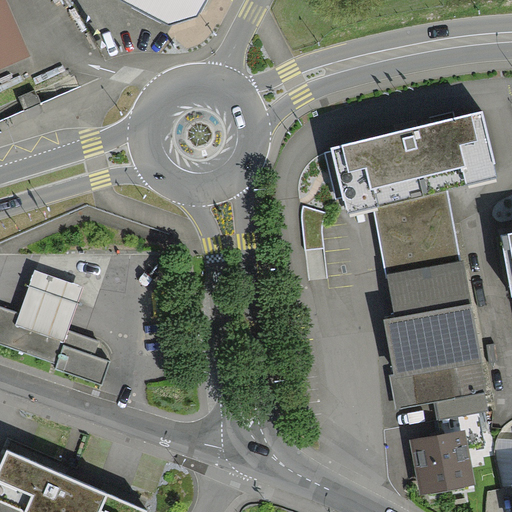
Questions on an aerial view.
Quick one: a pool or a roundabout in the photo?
roundabout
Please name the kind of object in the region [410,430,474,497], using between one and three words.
house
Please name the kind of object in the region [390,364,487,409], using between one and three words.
building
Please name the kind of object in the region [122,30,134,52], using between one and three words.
vehicle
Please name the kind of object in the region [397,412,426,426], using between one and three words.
vehicle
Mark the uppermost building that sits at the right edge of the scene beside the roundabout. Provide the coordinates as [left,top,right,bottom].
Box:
[324,110,497,223]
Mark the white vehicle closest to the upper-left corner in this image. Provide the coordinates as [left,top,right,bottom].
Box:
[101,30,118,56]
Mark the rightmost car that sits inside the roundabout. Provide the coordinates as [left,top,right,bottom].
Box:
[232,106,245,130]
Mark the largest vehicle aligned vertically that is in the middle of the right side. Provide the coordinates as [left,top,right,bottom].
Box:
[472,276,486,306]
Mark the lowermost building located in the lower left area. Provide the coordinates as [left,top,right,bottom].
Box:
[0,450,146,512]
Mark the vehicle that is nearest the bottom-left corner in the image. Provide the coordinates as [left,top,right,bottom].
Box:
[116,385,132,408]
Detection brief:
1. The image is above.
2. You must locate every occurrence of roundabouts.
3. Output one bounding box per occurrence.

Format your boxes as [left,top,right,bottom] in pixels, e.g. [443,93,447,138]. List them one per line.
[128,63,270,205]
